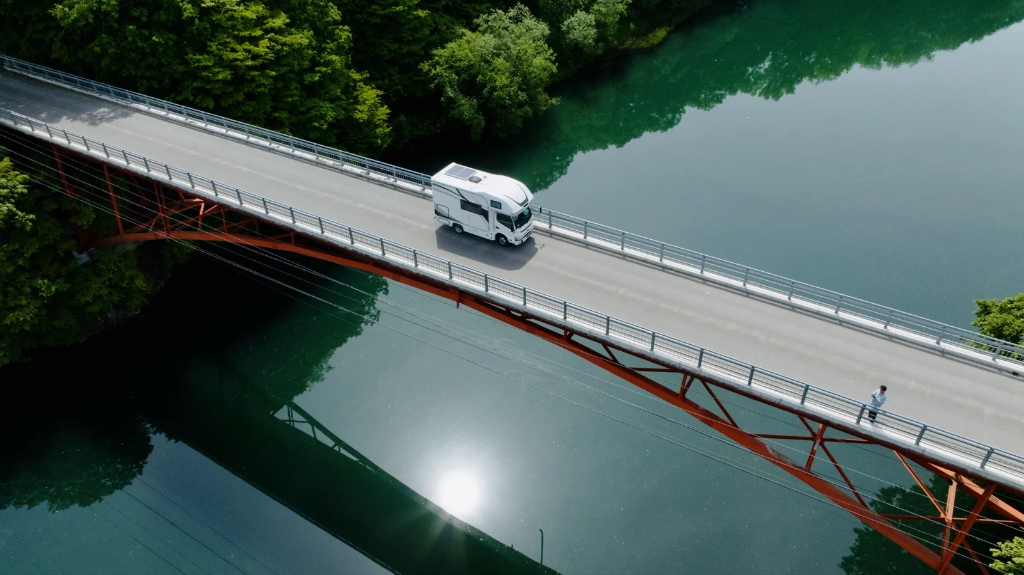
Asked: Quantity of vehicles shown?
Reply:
1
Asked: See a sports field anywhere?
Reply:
No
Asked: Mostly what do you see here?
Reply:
water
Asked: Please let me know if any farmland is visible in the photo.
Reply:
No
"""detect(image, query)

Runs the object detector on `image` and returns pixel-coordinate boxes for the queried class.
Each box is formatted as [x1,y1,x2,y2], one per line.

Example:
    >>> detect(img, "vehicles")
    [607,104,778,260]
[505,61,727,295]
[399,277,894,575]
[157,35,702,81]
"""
[433,163,540,246]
